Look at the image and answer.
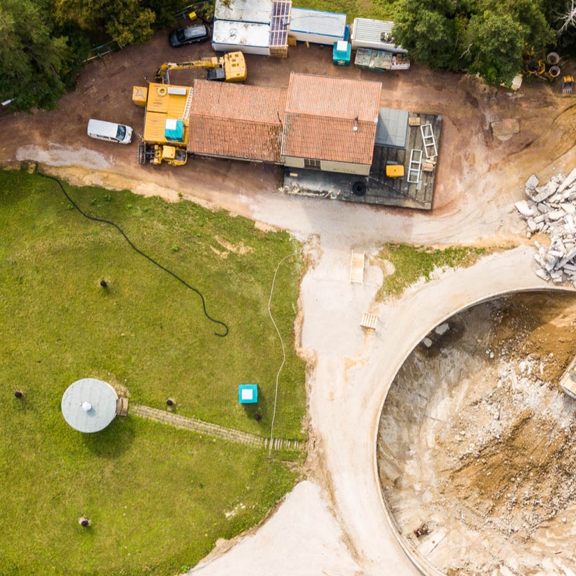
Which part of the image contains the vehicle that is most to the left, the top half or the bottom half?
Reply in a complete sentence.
It is in the top half that the vehicle that is most to the left appears.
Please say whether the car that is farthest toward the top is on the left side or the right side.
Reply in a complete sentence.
The car that is farthest toward the top sits on the left side.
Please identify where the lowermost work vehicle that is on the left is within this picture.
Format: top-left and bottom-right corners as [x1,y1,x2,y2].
[137,144,185,170]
